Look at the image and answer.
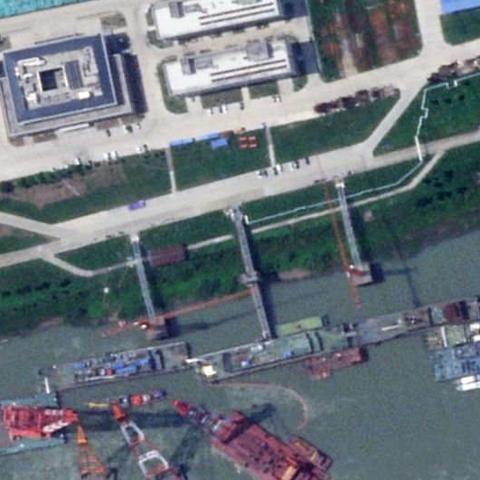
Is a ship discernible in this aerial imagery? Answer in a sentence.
Yes, the image includes a ship.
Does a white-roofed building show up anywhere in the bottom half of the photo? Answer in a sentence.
No, in the bottom half of the photo there is no white-roofed building.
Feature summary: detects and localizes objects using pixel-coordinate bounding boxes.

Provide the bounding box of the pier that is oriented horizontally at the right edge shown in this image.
[355,296,480,346]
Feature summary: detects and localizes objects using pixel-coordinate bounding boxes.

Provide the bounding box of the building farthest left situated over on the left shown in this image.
[0,35,138,137]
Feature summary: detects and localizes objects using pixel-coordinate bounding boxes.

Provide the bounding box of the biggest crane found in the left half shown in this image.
[99,290,251,338]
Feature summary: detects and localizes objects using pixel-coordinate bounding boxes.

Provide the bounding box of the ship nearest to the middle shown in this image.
[278,315,329,335]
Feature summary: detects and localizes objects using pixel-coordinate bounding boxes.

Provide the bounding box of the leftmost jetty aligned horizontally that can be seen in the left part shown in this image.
[38,342,189,394]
